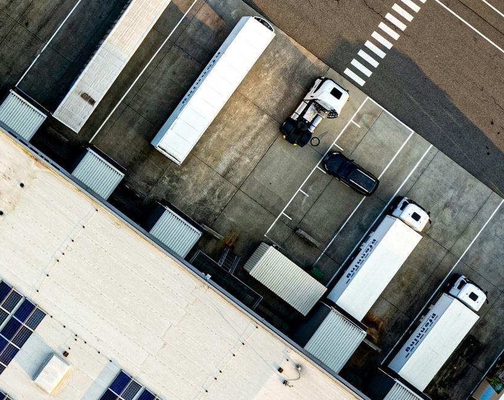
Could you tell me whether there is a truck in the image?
Yes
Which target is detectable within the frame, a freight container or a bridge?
freight container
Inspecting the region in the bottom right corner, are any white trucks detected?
Yes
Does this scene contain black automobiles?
Yes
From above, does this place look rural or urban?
urban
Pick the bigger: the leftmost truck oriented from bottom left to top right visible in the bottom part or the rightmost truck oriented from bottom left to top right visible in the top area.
the leftmost truck oriented from bottom left to top right visible in the bottom part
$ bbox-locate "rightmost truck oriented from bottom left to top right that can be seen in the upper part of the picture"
[278,72,353,149]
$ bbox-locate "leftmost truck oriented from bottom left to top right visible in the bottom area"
[327,193,437,321]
